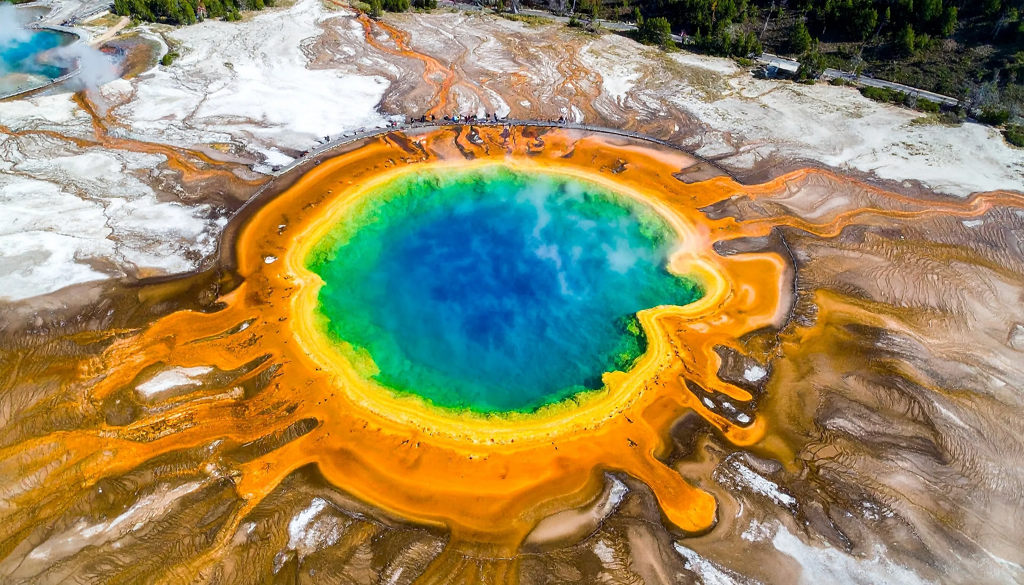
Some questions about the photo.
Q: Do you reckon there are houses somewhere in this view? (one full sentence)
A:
No, there appears to be no house in this shot.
